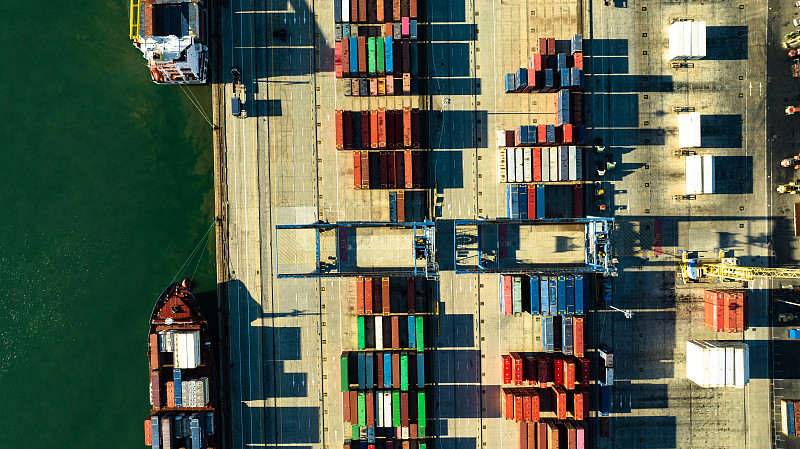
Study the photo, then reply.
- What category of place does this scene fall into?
port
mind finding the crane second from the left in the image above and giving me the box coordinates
[451,210,622,281]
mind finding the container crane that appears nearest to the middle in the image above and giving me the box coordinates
[277,213,447,284]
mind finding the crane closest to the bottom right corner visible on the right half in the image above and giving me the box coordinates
[677,247,800,285]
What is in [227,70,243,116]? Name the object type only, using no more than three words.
vehicle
